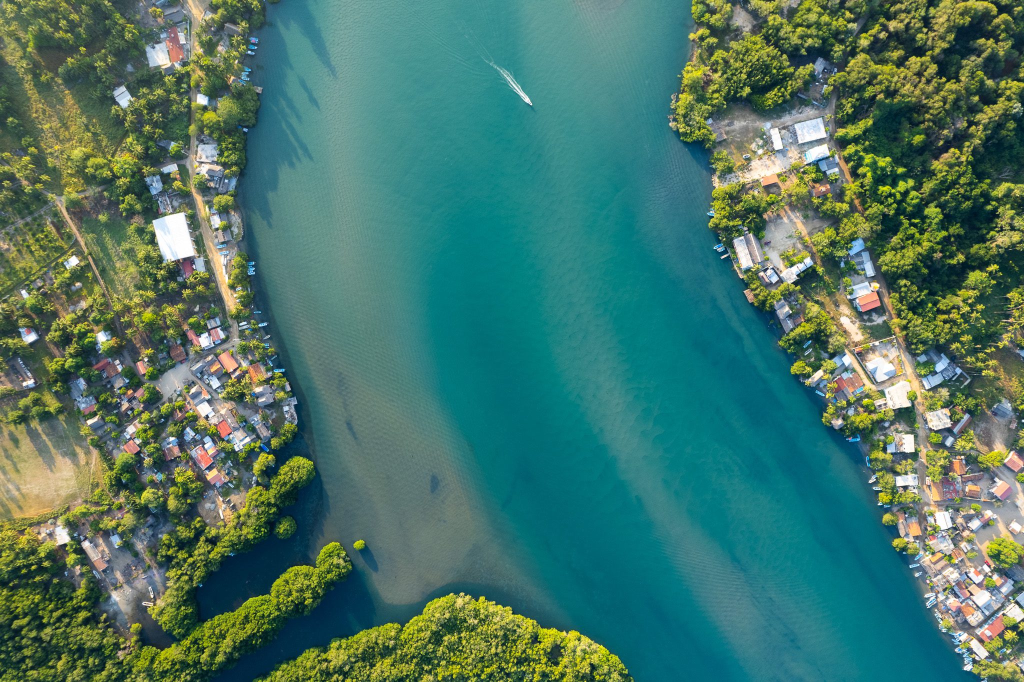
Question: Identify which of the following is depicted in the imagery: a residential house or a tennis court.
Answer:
residential house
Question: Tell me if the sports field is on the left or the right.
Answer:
left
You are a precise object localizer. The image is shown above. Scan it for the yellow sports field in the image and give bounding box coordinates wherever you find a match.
[0,430,85,520]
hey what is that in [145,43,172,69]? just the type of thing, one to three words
house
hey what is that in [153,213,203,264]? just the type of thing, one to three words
building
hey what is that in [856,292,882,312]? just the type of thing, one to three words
house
